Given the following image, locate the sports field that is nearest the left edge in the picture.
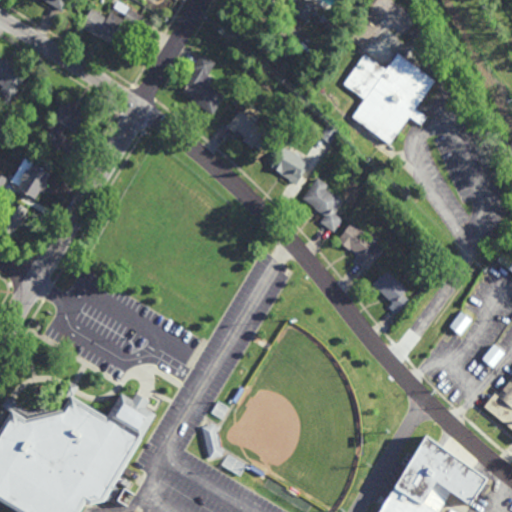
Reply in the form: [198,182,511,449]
[90,153,262,338]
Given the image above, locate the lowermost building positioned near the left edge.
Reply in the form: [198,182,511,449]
[0,395,156,512]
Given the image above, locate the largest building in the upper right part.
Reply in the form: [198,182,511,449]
[343,55,434,145]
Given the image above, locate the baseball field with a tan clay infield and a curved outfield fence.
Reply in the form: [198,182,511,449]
[220,322,362,512]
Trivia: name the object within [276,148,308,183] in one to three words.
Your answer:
house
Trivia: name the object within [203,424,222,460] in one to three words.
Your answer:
building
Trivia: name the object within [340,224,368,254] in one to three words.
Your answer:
house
